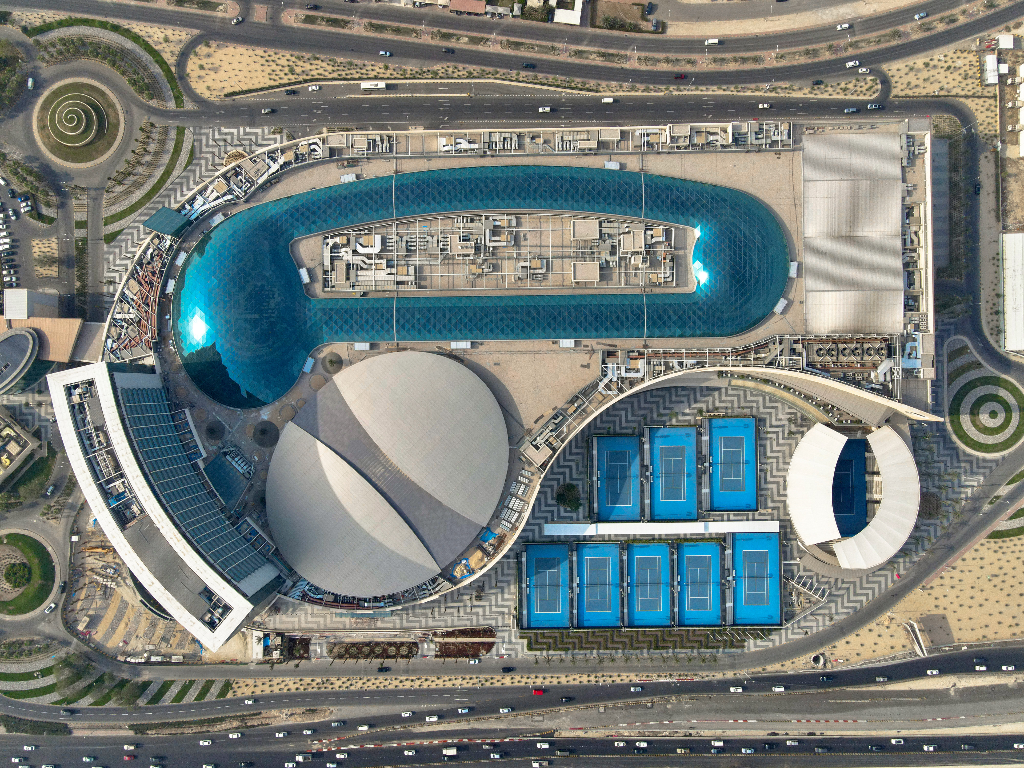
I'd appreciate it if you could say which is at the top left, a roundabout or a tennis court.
roundabout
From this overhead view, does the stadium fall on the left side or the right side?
right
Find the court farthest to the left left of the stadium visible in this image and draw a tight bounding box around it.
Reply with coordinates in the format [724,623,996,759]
[526,545,570,627]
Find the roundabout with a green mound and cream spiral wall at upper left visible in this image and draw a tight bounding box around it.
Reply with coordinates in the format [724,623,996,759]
[33,77,125,168]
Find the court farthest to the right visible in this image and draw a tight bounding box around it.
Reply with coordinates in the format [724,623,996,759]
[834,438,867,538]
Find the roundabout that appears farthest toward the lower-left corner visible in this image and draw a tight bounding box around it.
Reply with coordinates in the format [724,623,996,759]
[0,528,60,620]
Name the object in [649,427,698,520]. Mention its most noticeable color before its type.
blue tennis court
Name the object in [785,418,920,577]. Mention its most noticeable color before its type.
white stadium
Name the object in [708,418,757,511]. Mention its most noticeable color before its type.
blue tennis court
